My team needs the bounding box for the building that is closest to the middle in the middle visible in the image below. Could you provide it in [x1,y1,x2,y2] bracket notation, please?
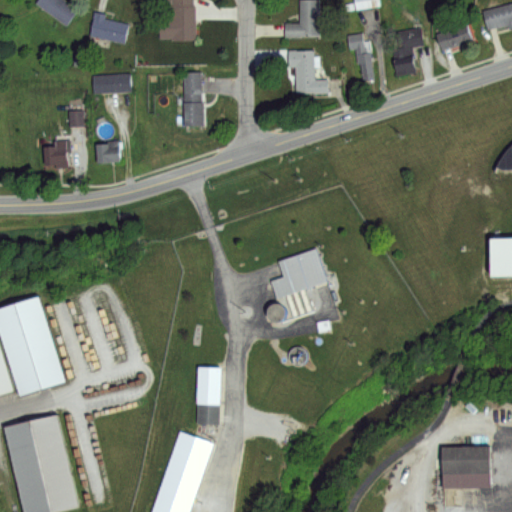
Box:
[271,249,328,298]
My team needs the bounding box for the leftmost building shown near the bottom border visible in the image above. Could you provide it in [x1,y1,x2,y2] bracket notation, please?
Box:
[4,415,80,512]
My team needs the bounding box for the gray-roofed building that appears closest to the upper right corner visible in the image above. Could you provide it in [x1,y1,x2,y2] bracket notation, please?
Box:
[483,3,512,31]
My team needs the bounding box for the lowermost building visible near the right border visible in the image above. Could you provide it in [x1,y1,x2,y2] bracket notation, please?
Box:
[440,444,492,488]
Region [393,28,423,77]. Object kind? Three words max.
house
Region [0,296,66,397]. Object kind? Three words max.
building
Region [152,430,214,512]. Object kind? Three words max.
shed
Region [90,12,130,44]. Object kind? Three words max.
house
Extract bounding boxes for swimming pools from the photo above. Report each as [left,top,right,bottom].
[98,123,114,140]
